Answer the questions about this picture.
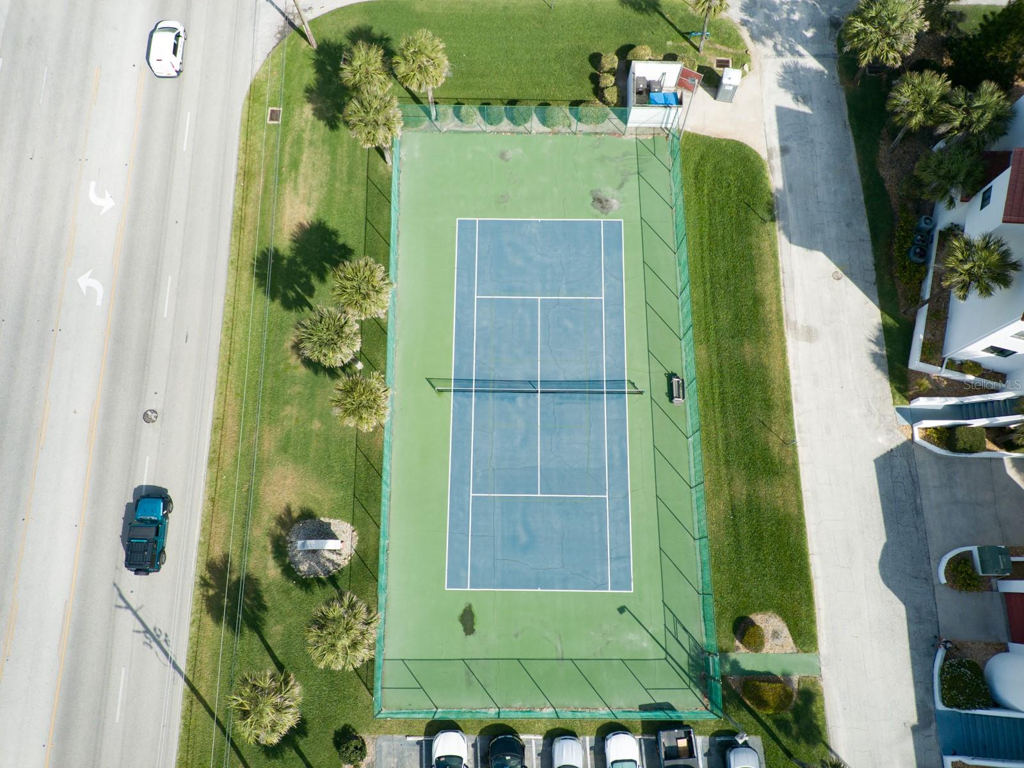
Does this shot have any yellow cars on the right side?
No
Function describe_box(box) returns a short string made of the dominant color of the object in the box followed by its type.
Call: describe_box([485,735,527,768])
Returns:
black car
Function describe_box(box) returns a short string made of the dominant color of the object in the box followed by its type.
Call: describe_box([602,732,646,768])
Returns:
white car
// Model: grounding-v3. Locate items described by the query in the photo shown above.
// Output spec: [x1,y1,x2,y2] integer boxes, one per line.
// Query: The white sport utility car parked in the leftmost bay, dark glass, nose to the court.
[427,731,470,768]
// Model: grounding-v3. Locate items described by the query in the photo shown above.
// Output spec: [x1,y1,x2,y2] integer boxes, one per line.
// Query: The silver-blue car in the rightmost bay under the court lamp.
[724,742,762,768]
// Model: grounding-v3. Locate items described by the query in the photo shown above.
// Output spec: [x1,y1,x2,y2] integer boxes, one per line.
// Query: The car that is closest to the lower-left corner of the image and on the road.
[119,497,170,576]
